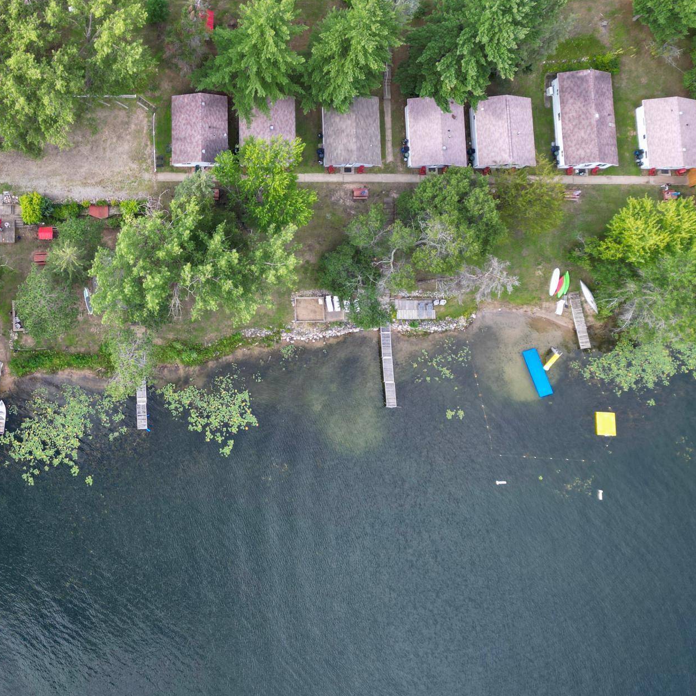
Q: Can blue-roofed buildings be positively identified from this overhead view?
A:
No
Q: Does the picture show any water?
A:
Yes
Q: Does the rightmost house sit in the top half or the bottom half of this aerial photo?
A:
top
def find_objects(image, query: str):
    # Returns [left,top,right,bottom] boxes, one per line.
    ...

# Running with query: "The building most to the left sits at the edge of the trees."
[171,92,228,177]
